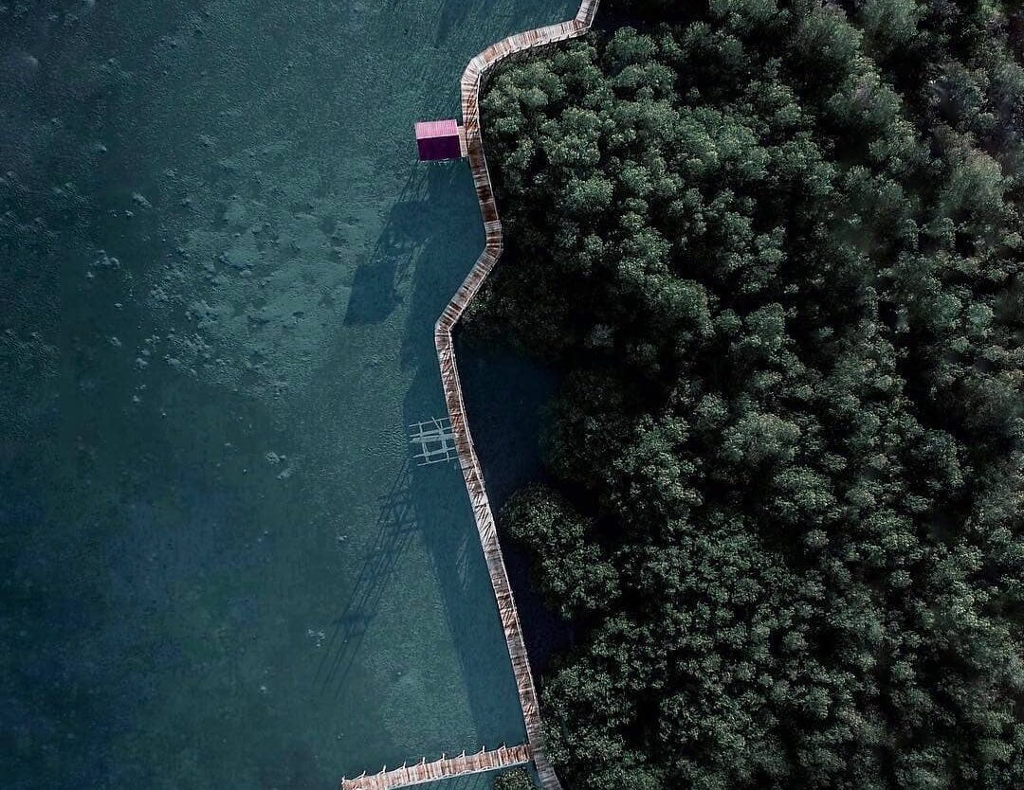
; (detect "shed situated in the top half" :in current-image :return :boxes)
[416,119,469,163]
